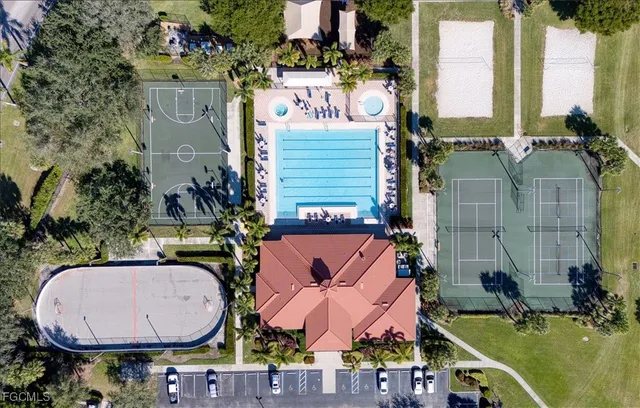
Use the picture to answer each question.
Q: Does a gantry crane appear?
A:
No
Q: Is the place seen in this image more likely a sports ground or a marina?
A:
sports ground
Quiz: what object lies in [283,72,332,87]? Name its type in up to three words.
building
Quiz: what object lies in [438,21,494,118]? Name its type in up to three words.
sports court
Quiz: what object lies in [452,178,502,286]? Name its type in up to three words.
tennis court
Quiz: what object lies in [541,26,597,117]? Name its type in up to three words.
sports court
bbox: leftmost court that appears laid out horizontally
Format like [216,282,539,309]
[34,264,226,351]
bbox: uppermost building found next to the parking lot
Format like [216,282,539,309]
[256,235,416,351]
